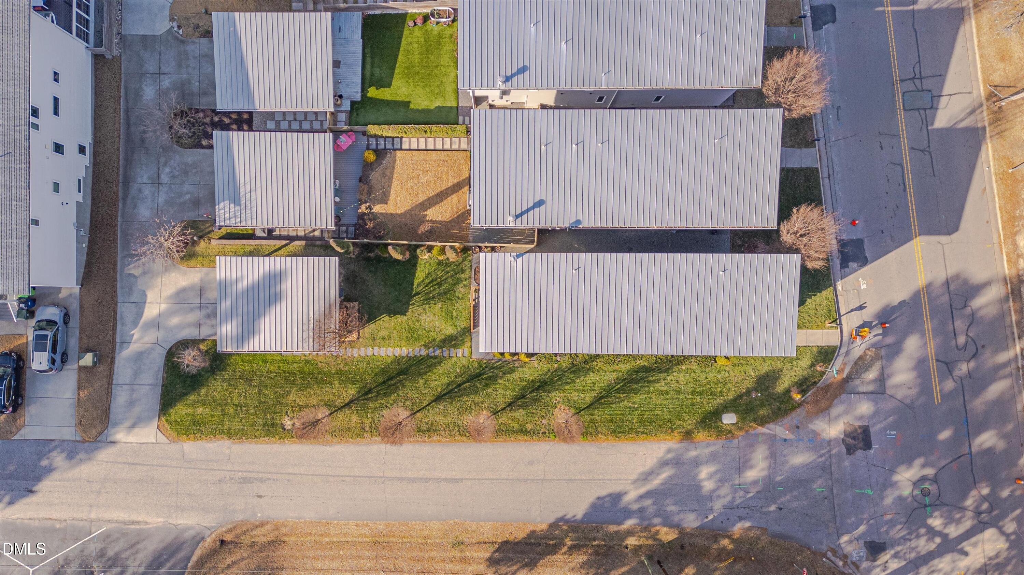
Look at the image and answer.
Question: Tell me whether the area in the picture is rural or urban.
urban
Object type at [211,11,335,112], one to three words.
building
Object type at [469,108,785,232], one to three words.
house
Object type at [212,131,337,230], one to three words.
building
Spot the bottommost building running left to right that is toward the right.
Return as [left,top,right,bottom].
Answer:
[479,253,804,359]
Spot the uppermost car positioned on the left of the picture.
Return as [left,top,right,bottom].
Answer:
[27,307,71,376]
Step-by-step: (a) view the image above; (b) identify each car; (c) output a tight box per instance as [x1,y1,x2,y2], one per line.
[0,351,22,422]
[27,307,71,376]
